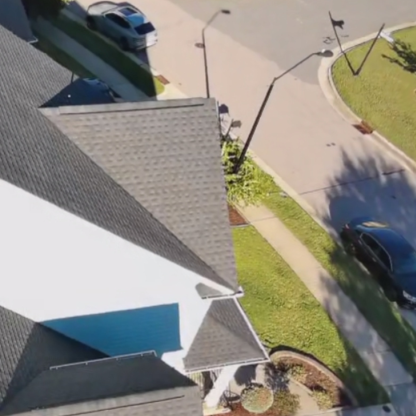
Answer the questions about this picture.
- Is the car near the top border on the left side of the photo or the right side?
left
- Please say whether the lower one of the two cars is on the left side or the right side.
right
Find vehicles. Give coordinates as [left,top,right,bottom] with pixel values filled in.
[81,5,156,50]
[346,215,416,304]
